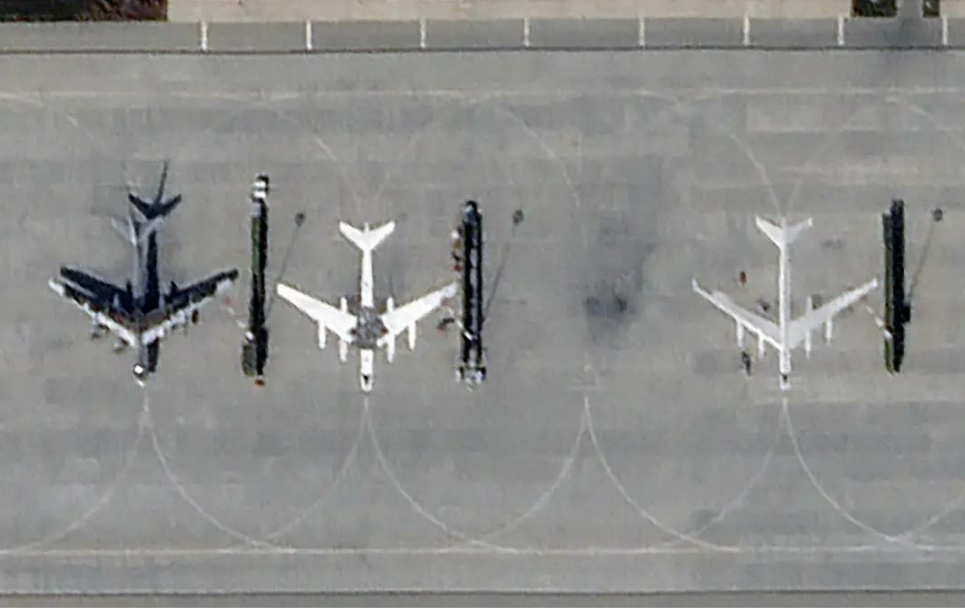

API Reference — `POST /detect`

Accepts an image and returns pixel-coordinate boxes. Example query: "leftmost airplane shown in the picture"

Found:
[50,200,230,386]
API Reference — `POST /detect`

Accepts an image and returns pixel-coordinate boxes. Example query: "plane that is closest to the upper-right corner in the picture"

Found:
[693,217,877,388]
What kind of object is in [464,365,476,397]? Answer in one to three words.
vehicle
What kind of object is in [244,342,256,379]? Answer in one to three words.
vehicle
